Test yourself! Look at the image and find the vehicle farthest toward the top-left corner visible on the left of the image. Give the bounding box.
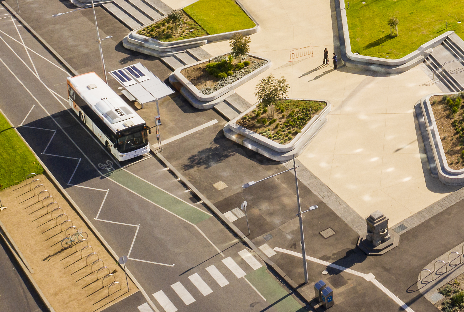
[63,74,153,162]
